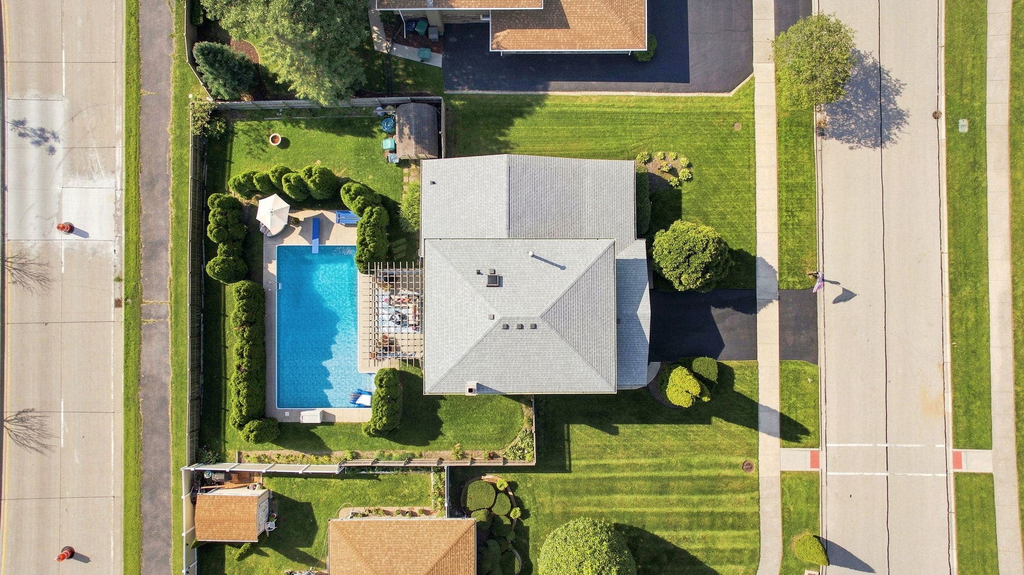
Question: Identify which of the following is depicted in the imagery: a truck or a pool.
pool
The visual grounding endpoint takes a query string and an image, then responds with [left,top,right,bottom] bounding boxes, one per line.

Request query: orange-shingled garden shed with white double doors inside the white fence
[192,488,269,543]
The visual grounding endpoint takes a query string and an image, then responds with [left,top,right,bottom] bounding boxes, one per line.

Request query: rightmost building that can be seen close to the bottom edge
[327,515,477,575]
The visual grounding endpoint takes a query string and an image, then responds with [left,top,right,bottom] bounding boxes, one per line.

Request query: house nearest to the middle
[420,154,653,397]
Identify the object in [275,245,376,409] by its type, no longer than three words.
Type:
swimming pool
